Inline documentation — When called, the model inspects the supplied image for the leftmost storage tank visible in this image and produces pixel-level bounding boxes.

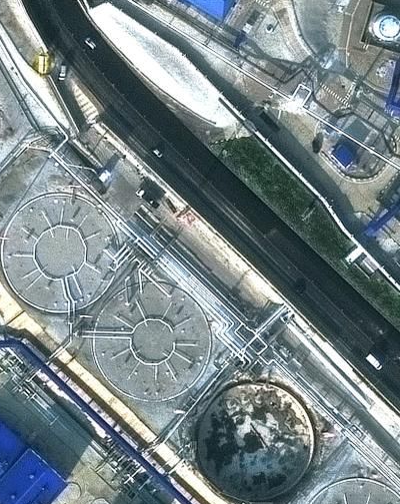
[1,193,120,314]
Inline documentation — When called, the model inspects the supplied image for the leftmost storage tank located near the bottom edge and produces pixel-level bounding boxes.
[197,382,315,499]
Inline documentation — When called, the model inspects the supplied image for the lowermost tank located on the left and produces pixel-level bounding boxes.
[92,283,212,401]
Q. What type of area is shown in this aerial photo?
industrial area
